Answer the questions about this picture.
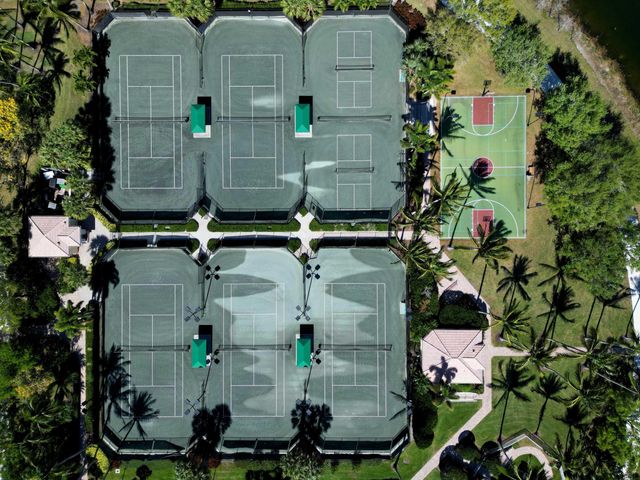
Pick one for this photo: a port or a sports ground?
sports ground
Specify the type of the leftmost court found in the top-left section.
tennis court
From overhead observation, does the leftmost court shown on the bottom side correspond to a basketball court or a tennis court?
tennis court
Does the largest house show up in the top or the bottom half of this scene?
bottom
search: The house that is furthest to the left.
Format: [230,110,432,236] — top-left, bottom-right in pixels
[24,216,87,257]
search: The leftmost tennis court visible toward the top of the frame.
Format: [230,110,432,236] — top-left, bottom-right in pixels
[101,17,202,224]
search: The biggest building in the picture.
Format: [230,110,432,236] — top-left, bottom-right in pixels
[419,329,486,384]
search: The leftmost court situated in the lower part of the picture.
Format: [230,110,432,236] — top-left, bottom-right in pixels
[102,248,203,454]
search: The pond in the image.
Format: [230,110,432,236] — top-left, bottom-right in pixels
[566,0,640,96]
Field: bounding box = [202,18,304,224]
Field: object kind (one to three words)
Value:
tennis court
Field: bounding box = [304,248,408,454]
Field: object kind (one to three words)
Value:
tennis court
